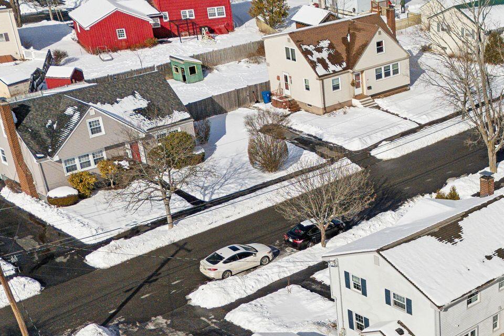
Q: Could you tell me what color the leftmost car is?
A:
white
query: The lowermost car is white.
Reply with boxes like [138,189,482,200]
[196,247,270,281]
